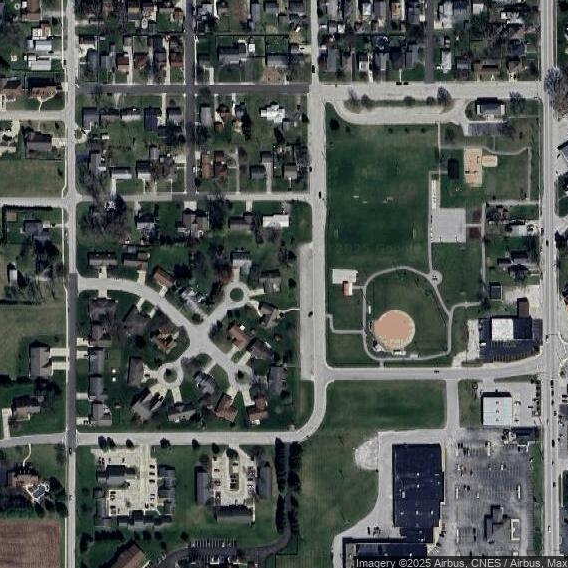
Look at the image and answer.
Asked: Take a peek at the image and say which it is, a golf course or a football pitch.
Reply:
football pitch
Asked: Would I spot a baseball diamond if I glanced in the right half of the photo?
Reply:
Yes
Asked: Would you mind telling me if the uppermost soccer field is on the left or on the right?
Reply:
right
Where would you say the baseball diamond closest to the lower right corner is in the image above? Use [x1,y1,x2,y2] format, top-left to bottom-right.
[365,268,448,358]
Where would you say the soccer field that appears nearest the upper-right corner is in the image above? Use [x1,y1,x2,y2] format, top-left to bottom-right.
[339,200,416,266]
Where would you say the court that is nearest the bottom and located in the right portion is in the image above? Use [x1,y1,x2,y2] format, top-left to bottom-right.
[430,209,466,243]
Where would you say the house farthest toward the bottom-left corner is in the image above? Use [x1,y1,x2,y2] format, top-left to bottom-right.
[8,470,39,493]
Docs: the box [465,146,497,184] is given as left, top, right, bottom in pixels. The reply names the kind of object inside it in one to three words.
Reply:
playground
